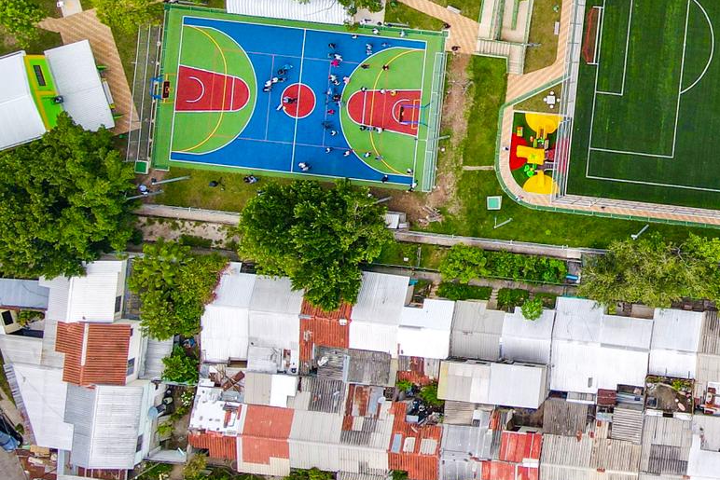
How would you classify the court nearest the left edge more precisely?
basketball court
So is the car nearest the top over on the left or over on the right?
left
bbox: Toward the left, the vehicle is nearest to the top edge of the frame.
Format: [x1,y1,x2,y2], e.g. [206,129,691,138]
[0,417,26,457]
